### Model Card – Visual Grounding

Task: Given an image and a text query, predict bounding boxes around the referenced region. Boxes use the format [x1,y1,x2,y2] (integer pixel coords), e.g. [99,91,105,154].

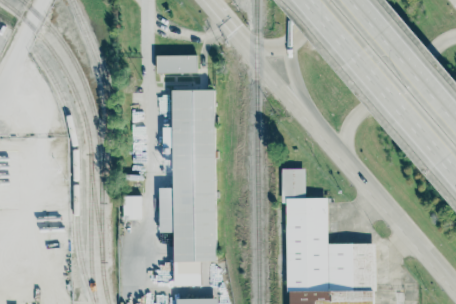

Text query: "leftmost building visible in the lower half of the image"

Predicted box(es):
[124,196,143,221]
